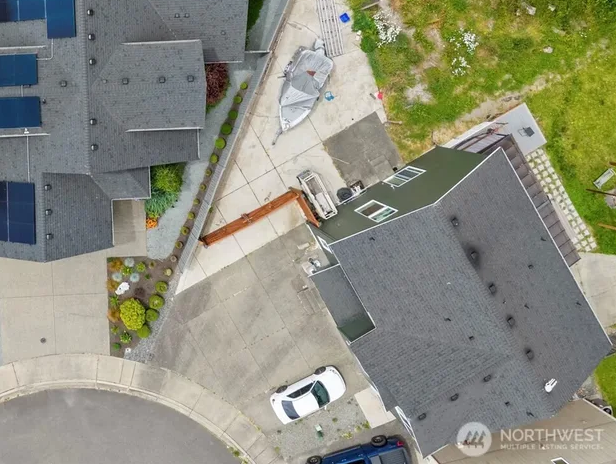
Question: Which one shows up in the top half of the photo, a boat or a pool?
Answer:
boat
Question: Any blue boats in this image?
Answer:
No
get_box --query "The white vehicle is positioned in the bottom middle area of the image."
[266,365,347,421]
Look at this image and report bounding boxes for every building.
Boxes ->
[305,141,612,459]
[0,0,249,261]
